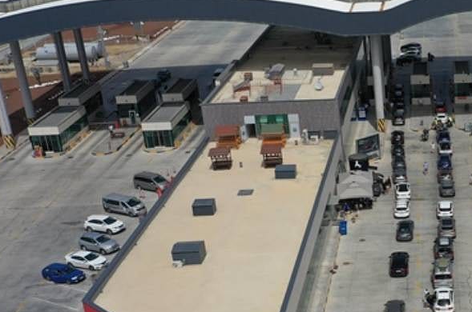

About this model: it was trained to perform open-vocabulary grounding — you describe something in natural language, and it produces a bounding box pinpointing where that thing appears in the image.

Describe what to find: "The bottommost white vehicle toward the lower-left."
[65,248,108,269]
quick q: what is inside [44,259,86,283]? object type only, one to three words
car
